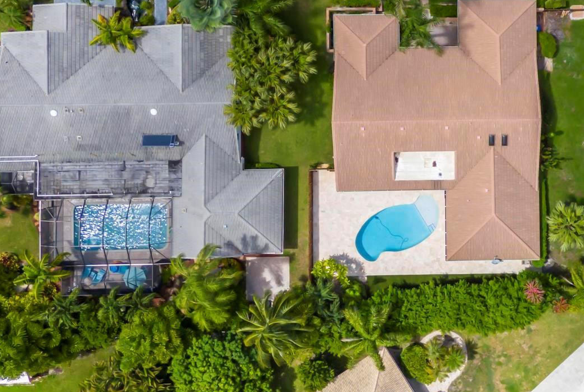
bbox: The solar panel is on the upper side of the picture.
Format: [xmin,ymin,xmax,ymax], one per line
[140,135,176,147]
